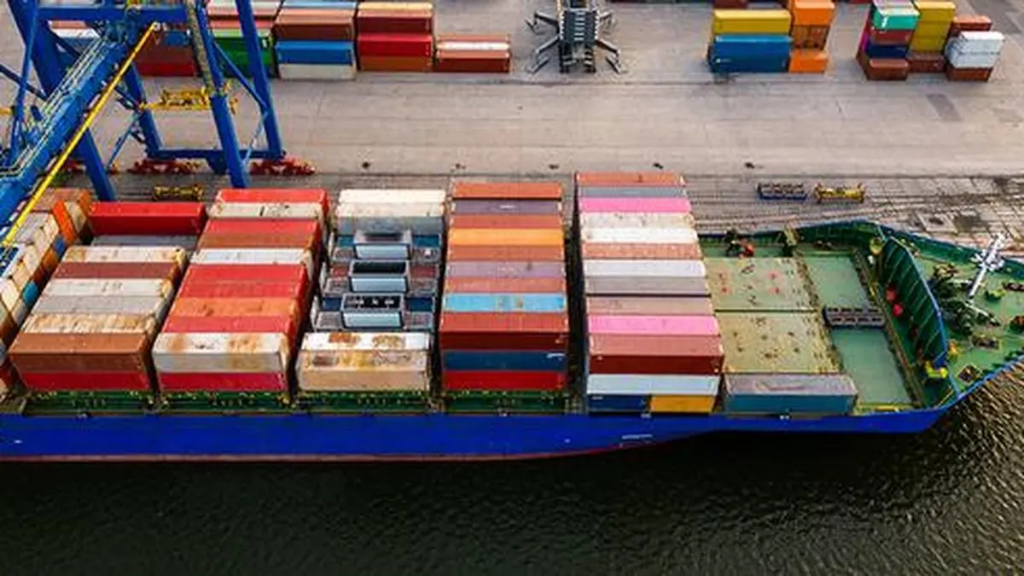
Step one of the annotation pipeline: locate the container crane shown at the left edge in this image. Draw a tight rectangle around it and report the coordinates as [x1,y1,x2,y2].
[0,0,317,341]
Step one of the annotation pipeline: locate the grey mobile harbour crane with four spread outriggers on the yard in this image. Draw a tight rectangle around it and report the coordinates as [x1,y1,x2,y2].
[525,0,631,71]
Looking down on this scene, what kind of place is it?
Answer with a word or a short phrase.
port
